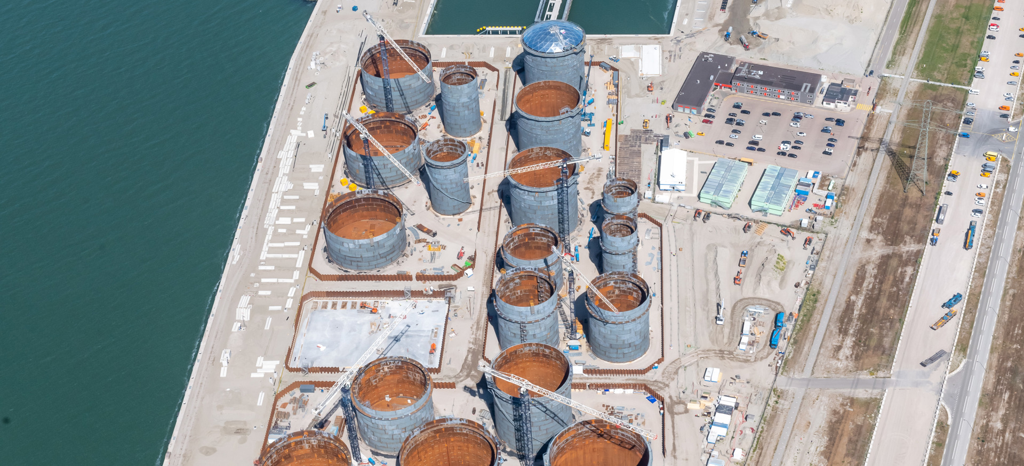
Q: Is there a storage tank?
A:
Yes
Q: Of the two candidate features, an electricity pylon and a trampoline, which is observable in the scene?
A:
electricity pylon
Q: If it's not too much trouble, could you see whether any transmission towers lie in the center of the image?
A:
No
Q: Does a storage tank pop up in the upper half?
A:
Yes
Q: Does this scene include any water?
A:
Yes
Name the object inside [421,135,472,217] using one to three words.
storage tank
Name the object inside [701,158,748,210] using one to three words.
building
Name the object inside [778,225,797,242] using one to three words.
work vehicle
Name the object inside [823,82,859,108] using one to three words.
building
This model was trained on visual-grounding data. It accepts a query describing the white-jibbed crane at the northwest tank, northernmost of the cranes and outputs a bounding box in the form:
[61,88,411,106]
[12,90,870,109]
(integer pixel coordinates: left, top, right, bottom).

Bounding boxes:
[360,9,430,112]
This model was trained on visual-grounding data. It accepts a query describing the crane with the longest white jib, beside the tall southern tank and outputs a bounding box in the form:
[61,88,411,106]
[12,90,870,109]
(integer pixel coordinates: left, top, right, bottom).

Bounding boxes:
[474,365,656,466]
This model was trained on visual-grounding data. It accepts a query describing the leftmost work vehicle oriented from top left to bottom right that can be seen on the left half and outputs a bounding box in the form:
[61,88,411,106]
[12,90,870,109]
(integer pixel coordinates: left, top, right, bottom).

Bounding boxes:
[359,299,381,315]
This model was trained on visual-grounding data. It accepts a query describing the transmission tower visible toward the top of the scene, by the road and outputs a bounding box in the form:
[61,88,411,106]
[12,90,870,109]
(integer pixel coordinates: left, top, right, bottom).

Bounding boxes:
[888,100,964,196]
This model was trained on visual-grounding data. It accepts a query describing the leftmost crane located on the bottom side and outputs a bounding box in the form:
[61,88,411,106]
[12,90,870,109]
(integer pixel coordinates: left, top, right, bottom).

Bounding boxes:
[315,298,423,466]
